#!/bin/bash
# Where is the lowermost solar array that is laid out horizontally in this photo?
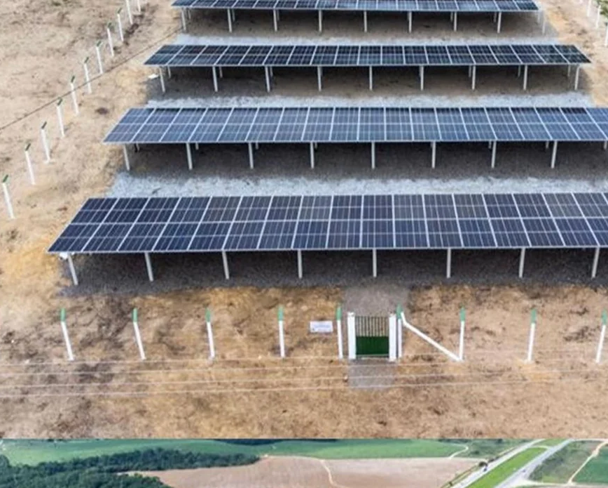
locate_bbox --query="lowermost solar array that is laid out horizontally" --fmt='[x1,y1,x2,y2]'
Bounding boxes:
[48,193,608,284]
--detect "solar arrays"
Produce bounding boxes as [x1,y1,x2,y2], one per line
[48,193,608,284]
[104,106,608,168]
[173,0,546,31]
[145,44,593,91]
